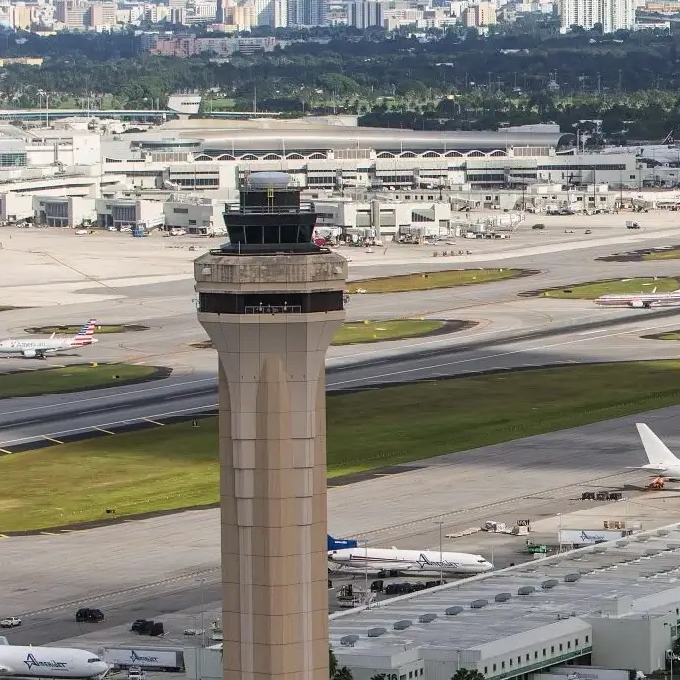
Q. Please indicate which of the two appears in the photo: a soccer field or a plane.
plane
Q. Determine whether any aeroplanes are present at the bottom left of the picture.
Yes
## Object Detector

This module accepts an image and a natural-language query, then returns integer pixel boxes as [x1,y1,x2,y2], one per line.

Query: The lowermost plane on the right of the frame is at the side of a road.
[330,536,499,580]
